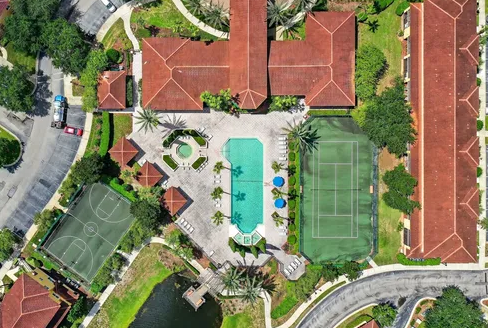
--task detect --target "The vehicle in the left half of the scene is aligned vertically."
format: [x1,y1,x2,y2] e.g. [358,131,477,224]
[52,93,66,129]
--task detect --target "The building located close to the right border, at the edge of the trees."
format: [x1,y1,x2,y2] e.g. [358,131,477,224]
[402,0,479,262]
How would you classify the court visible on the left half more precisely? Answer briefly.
basketball court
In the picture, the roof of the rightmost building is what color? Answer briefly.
red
